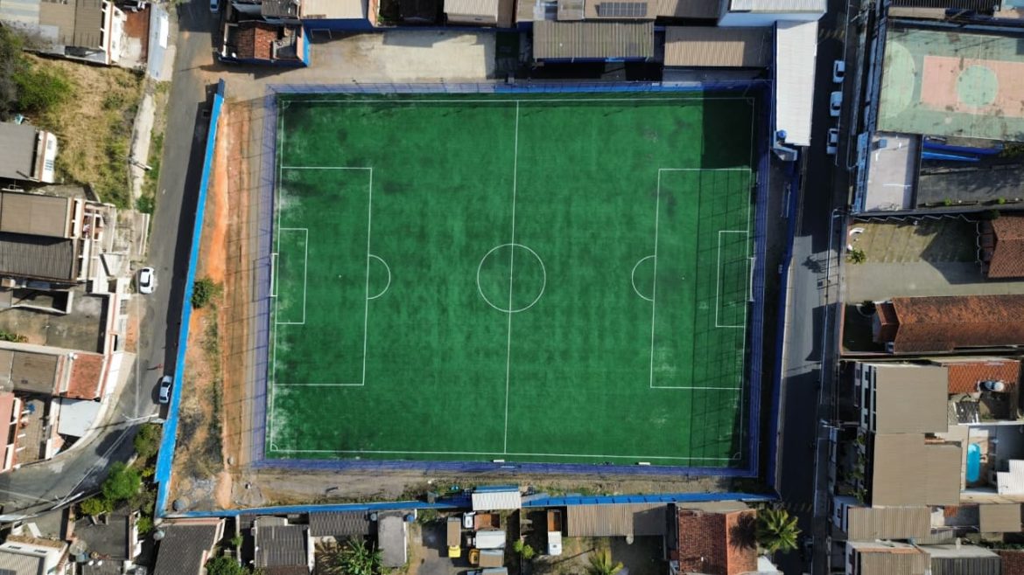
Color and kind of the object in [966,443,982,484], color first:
blue swimming pool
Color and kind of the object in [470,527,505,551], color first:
white truck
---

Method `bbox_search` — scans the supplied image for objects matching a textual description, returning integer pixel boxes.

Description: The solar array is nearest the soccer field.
[599,2,648,16]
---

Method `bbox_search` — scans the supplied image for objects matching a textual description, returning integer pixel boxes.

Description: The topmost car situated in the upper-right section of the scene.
[833,58,848,82]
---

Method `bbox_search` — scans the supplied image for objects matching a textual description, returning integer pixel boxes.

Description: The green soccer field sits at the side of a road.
[266,90,760,467]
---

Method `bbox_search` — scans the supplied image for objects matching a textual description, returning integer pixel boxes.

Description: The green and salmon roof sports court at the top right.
[878,26,1024,143]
